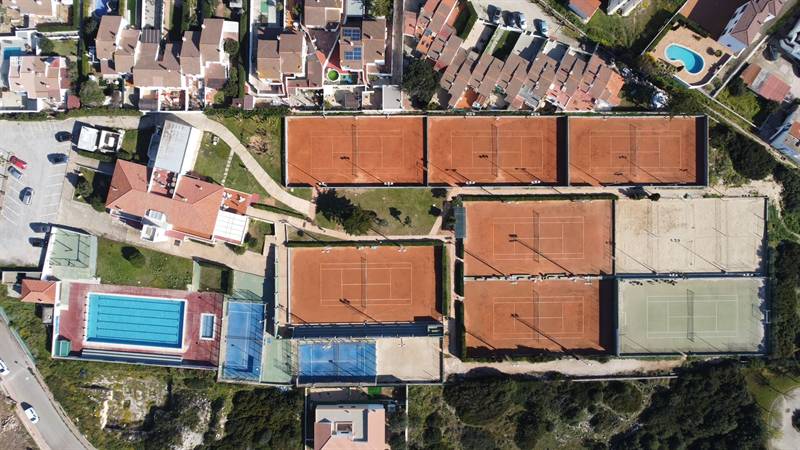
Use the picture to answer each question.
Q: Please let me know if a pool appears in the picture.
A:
Yes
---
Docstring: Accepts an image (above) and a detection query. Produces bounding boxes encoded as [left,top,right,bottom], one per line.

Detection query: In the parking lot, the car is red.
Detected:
[10,156,27,169]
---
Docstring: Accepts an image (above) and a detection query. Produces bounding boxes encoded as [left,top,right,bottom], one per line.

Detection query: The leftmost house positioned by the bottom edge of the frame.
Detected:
[315,402,385,450]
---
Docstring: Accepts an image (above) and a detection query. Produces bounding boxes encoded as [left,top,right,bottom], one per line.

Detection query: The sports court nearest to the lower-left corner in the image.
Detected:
[47,230,97,283]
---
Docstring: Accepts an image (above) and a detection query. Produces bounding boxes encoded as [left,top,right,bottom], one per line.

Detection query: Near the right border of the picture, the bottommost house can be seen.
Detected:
[762,116,800,173]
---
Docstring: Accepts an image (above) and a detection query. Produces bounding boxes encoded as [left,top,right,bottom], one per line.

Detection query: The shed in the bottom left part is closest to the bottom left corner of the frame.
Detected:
[55,338,76,356]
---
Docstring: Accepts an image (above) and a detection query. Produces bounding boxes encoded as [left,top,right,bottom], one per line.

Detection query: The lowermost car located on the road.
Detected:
[27,406,40,423]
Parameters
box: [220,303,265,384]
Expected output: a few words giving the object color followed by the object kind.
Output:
blue sports court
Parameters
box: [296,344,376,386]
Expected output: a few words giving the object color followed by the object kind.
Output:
blue sports court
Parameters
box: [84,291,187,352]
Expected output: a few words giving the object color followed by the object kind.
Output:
blue swimming pool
